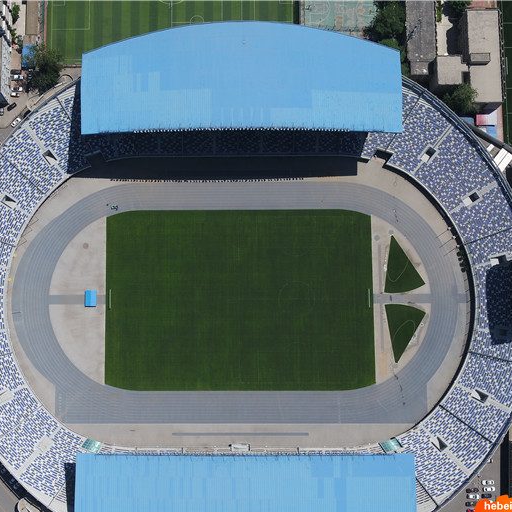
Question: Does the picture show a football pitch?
Yes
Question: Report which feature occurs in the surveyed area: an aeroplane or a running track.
running track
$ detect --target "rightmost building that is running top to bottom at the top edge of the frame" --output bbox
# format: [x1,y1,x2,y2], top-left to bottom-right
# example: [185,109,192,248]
[456,9,502,110]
